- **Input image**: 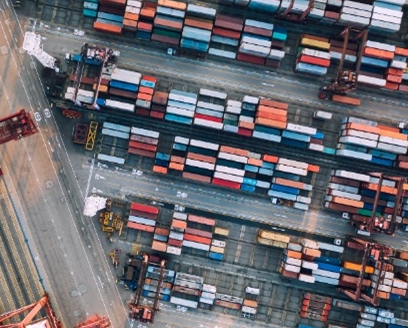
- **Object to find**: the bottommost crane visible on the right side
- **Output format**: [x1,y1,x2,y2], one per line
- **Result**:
[338,235,387,306]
